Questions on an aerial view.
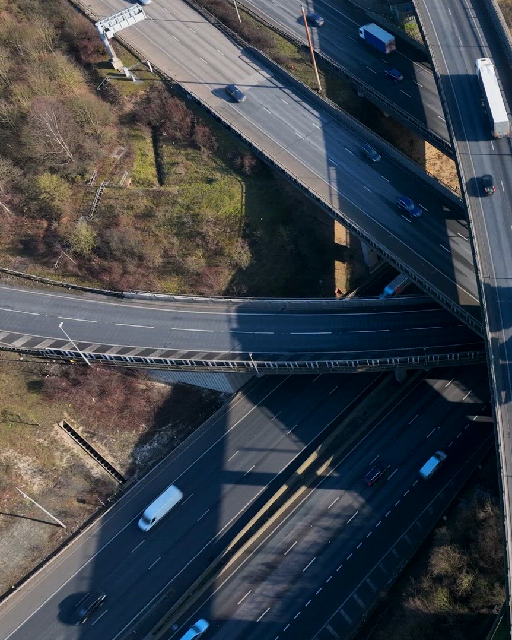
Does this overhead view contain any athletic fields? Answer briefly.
No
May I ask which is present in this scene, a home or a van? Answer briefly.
van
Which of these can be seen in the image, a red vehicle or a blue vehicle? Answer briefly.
blue vehicle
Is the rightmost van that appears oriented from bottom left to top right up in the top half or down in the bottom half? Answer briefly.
bottom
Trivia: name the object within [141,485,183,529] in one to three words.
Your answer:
van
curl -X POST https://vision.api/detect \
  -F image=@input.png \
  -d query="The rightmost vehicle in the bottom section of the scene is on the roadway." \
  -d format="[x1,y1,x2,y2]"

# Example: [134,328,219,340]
[416,450,449,482]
